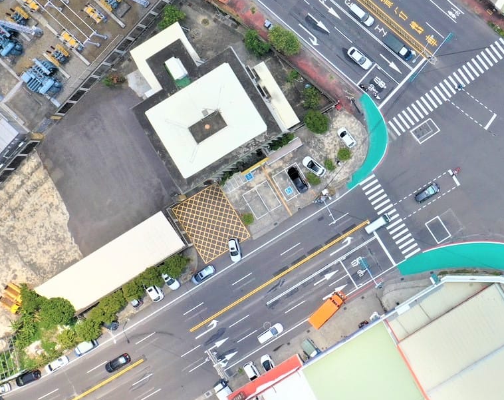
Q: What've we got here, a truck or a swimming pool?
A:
truck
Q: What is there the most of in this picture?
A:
paved ground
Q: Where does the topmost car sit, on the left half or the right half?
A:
right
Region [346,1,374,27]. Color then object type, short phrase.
white car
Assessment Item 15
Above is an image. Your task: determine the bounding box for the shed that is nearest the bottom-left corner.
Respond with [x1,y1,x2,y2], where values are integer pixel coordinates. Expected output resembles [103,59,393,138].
[34,210,197,312]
